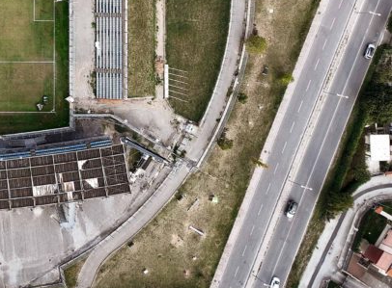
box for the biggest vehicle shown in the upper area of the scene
[364,43,376,59]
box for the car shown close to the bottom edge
[268,276,280,288]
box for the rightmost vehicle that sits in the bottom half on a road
[284,200,297,218]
